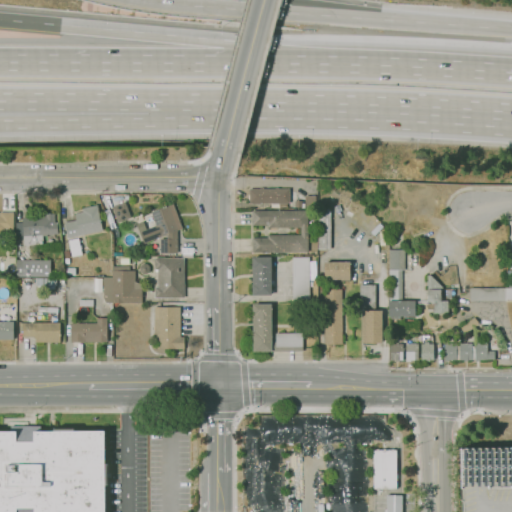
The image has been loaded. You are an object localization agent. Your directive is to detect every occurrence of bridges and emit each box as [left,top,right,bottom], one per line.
[210,0,282,193]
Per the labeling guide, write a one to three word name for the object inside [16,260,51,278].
house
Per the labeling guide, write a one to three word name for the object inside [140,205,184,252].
house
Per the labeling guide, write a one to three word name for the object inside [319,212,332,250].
shed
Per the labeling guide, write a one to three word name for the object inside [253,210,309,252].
building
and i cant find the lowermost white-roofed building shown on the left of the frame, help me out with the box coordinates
[0,426,106,512]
